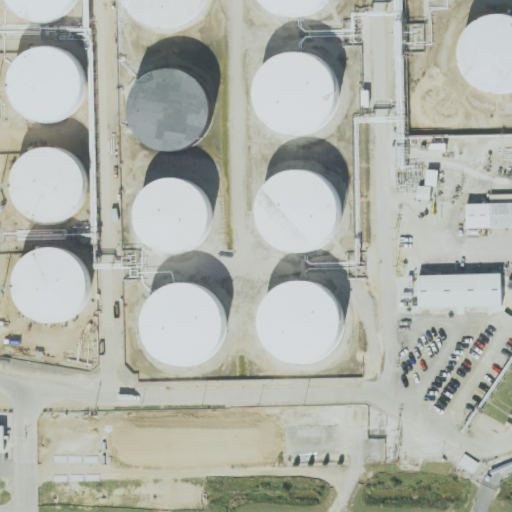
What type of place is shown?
industrial area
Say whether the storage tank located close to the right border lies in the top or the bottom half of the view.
top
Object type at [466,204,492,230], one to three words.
building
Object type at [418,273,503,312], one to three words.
building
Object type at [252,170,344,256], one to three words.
storage tank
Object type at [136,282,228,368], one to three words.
storage tank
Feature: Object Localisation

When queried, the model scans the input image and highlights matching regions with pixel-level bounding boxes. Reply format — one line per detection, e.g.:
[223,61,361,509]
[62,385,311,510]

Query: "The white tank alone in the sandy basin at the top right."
[454,10,512,98]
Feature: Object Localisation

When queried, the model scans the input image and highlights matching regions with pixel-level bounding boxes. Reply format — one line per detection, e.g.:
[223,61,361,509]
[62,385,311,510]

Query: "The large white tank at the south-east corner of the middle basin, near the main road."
[254,280,346,366]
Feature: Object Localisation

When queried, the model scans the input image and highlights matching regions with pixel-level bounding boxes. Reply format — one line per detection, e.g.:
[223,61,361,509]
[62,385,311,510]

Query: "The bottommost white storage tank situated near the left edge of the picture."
[8,246,94,326]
